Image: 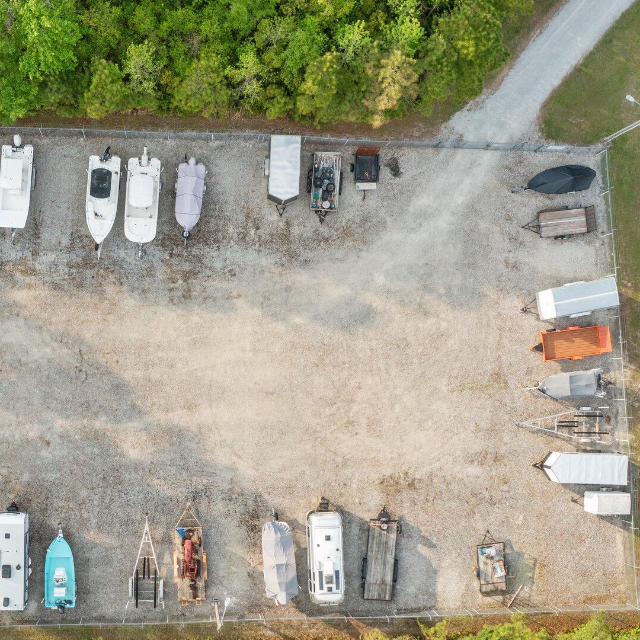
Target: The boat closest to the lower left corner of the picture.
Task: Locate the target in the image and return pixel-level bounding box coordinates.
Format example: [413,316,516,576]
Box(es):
[45,537,76,619]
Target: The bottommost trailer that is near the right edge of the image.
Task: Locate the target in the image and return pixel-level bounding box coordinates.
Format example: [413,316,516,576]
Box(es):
[571,486,631,516]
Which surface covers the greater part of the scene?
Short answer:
paved ground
